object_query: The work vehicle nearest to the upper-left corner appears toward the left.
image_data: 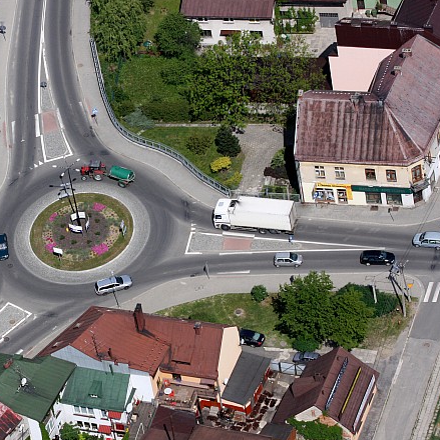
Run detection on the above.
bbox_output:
[78,160,109,184]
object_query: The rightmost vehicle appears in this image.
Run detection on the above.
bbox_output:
[410,231,440,251]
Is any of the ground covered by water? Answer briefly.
No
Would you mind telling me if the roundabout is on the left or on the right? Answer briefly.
left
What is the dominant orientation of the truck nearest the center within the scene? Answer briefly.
from left to right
